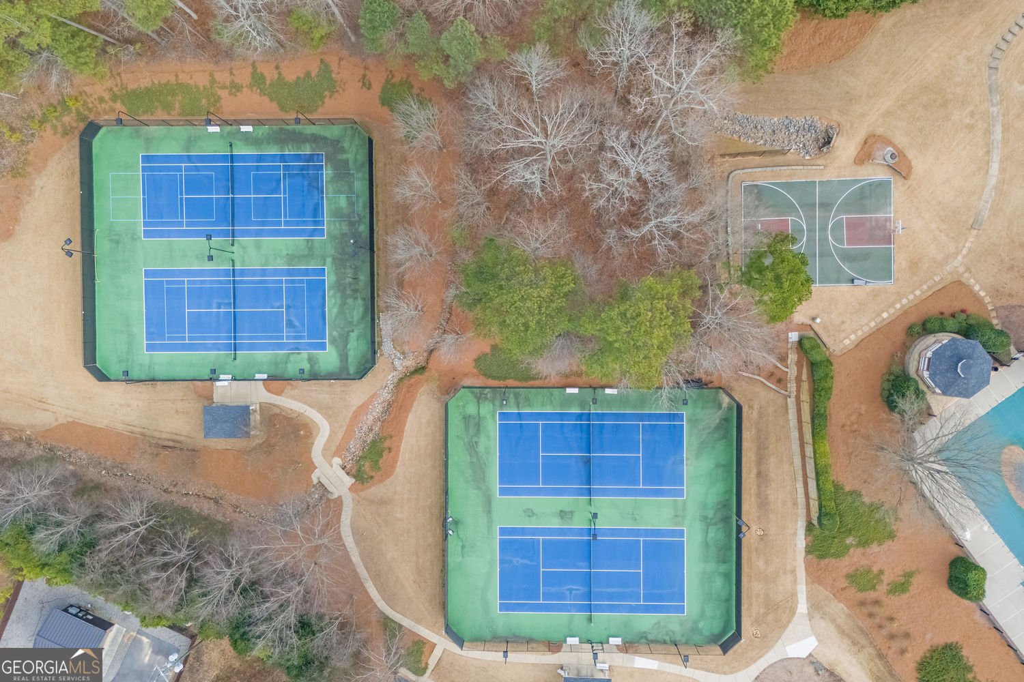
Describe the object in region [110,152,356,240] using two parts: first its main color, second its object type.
blue tennis court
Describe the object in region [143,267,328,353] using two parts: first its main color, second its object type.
blue tennis court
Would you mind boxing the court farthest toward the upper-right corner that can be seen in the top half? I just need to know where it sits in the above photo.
[742,178,894,286]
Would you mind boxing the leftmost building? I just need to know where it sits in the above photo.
[33,606,114,682]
